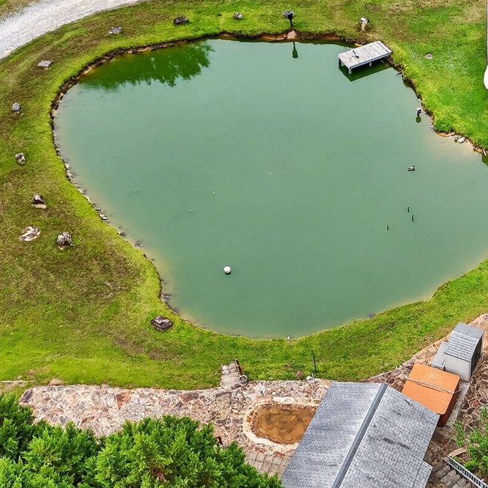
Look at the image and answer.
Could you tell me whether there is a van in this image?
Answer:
No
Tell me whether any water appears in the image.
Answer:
Yes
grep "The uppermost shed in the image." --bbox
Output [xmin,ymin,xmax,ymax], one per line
[442,325,483,379]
